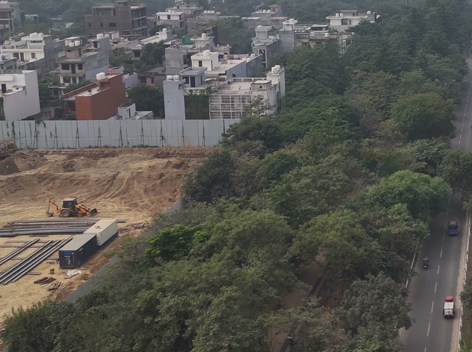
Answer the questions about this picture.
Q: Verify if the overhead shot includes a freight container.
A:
Yes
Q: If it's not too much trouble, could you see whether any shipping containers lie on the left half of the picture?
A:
Yes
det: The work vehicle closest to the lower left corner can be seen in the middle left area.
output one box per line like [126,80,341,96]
[48,197,100,218]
